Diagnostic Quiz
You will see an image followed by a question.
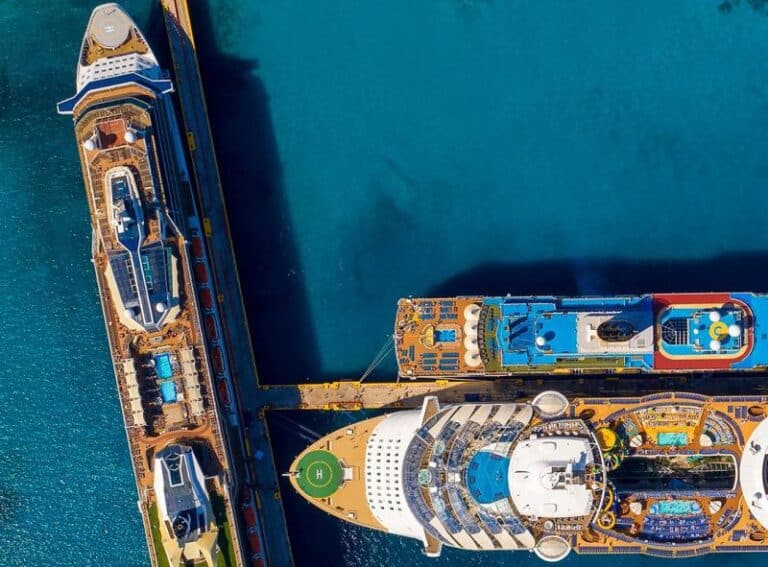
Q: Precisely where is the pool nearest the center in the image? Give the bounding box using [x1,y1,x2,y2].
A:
[435,328,457,343]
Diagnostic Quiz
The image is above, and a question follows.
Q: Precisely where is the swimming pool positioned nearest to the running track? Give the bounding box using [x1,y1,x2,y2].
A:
[656,432,688,447]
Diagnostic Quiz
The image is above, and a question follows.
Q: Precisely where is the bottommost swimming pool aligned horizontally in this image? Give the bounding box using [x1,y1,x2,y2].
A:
[652,499,694,515]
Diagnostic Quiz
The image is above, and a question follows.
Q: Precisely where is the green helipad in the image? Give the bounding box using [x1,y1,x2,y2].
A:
[296,450,347,497]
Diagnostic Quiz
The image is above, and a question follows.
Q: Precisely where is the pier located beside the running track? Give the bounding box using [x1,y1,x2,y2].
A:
[258,374,768,410]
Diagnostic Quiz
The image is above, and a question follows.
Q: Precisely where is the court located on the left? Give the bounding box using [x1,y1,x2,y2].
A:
[90,116,128,151]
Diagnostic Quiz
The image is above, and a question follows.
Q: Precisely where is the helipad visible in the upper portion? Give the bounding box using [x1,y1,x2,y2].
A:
[91,10,130,52]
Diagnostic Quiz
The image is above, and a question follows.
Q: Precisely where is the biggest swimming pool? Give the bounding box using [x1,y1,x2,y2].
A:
[465,450,508,504]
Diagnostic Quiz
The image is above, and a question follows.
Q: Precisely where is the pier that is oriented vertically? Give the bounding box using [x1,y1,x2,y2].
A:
[160,0,293,567]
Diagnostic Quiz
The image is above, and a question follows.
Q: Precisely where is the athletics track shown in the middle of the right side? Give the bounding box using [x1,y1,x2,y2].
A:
[655,293,754,369]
